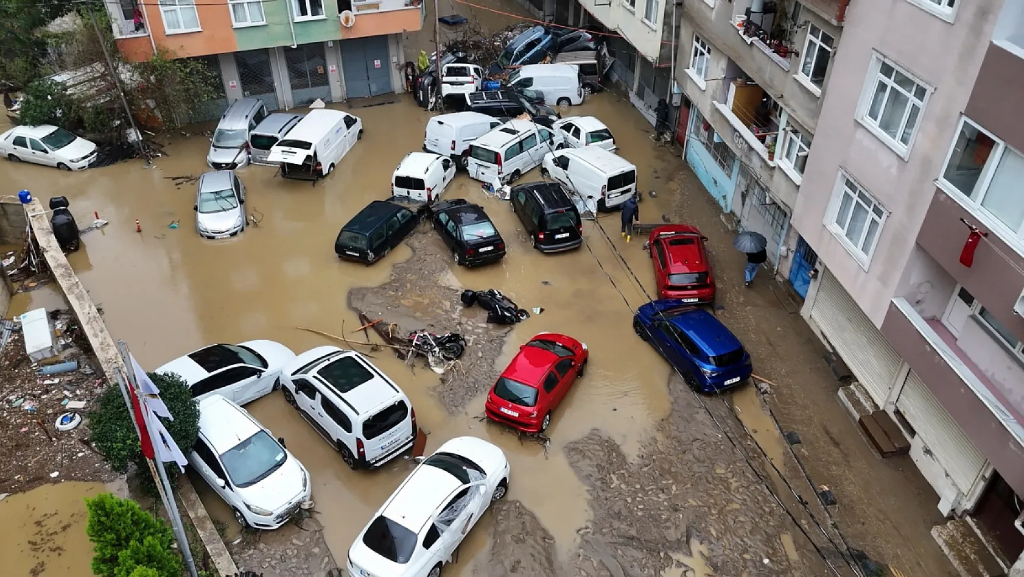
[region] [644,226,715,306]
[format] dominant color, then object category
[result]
red car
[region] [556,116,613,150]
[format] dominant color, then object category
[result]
white car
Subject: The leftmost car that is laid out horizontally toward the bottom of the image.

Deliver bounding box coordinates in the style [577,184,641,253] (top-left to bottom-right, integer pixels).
[132,330,294,401]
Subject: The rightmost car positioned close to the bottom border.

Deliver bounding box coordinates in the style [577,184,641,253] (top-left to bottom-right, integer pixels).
[345,436,511,577]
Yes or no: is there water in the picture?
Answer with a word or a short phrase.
Yes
